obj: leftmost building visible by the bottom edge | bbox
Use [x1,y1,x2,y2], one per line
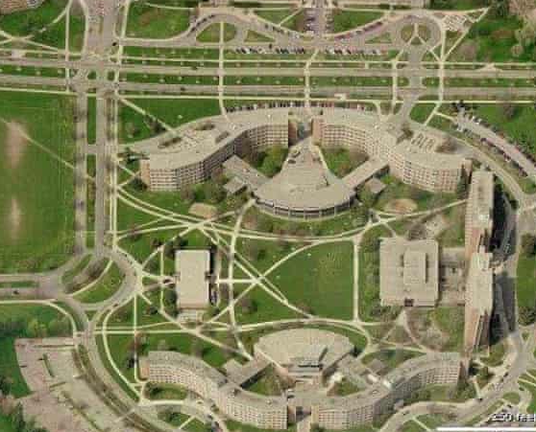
[140,351,296,430]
